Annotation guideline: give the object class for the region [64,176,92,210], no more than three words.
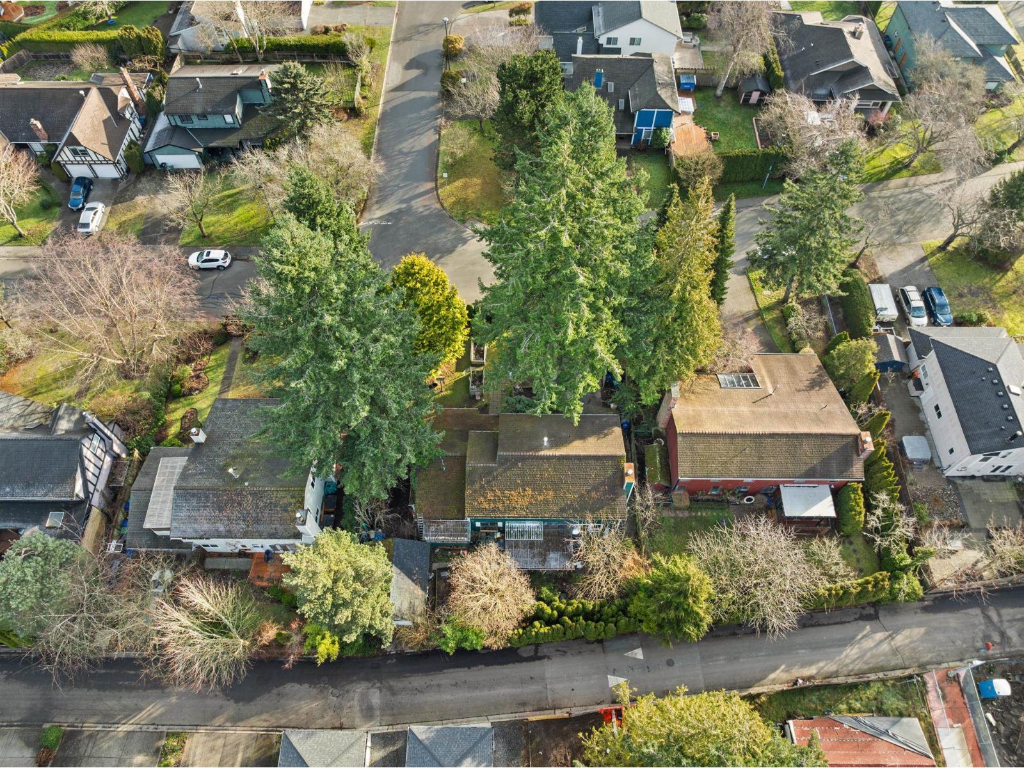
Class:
car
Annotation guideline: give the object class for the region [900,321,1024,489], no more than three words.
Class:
house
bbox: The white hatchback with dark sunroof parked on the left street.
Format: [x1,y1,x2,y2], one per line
[186,249,232,272]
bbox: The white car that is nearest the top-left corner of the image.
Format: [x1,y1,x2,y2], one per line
[73,203,108,235]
